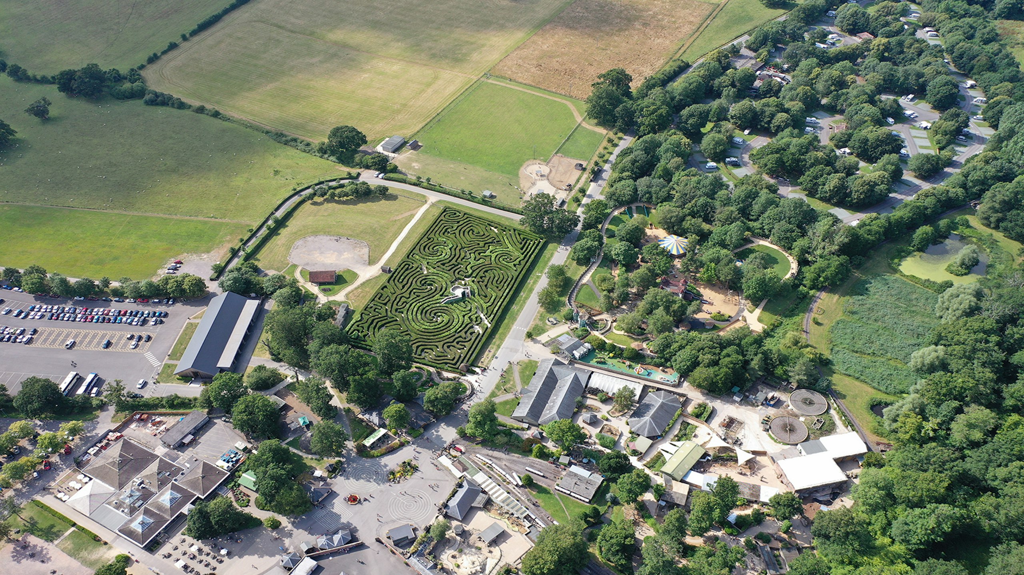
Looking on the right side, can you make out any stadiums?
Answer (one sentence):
No, no stadium can be made out on the right side.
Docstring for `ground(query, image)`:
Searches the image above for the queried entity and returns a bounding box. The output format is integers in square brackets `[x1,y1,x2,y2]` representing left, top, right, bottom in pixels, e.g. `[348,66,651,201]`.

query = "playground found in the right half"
[575,204,799,344]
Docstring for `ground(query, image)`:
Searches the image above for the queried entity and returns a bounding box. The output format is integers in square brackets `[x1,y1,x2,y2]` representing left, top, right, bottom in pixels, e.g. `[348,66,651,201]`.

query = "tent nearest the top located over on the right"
[657,235,692,259]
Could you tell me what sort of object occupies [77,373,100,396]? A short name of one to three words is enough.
bus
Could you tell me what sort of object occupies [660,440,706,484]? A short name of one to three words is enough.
barn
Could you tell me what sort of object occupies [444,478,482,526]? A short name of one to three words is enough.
building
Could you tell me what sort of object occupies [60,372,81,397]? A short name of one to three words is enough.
bus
